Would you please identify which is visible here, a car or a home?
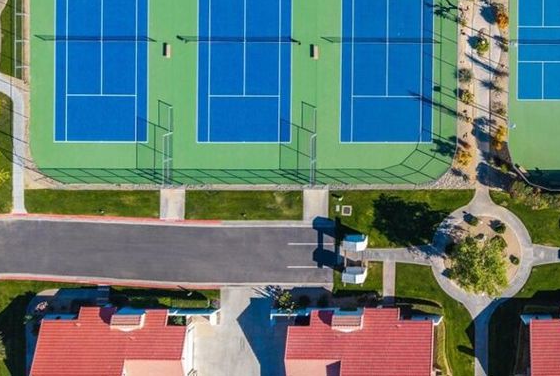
home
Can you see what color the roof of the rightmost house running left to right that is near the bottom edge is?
red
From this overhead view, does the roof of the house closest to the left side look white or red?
red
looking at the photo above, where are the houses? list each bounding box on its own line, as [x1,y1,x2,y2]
[29,304,196,376]
[527,314,560,376]
[283,304,435,376]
